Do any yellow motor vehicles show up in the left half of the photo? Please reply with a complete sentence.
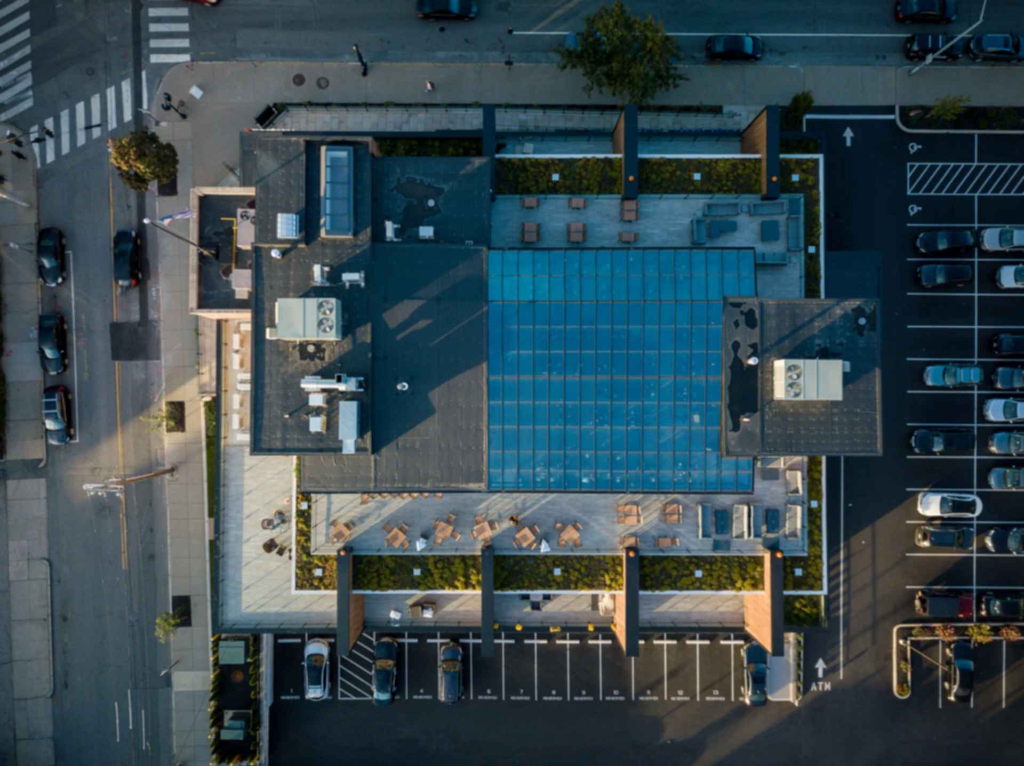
No, there's no yellow motor vehicle to be seen in the left half of the photo.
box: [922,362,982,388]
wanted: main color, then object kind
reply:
blue car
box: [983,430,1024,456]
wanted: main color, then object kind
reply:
blue car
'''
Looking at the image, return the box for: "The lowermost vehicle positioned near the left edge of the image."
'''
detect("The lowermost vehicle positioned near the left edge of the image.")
[43,387,75,443]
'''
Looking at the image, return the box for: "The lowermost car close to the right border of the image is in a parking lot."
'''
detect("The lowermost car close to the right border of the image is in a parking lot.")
[945,641,977,702]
